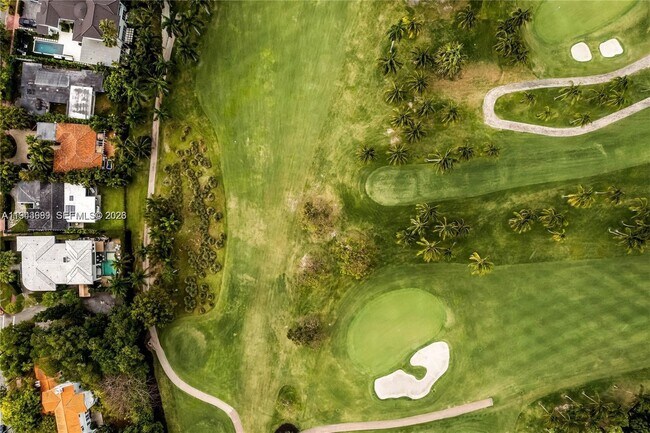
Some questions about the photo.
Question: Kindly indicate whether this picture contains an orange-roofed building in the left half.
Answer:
Yes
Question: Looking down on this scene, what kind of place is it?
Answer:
golf course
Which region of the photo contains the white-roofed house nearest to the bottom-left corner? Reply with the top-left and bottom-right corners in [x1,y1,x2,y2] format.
[17,236,102,297]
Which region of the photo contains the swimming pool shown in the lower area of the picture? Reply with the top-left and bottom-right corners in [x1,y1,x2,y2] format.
[101,251,116,276]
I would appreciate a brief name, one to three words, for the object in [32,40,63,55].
swimming pool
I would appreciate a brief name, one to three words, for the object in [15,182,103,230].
house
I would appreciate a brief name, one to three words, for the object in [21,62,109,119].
house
